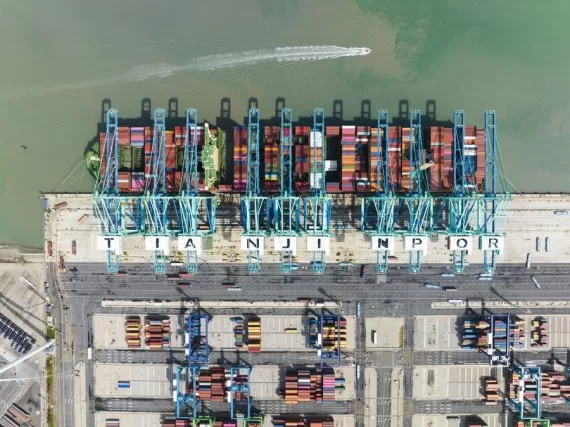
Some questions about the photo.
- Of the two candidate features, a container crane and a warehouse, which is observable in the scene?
container crane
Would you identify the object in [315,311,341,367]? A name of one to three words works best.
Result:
container crane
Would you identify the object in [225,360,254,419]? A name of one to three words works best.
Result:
container crane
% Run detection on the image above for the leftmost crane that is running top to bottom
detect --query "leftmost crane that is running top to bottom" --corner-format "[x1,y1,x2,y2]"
[89,107,150,274]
